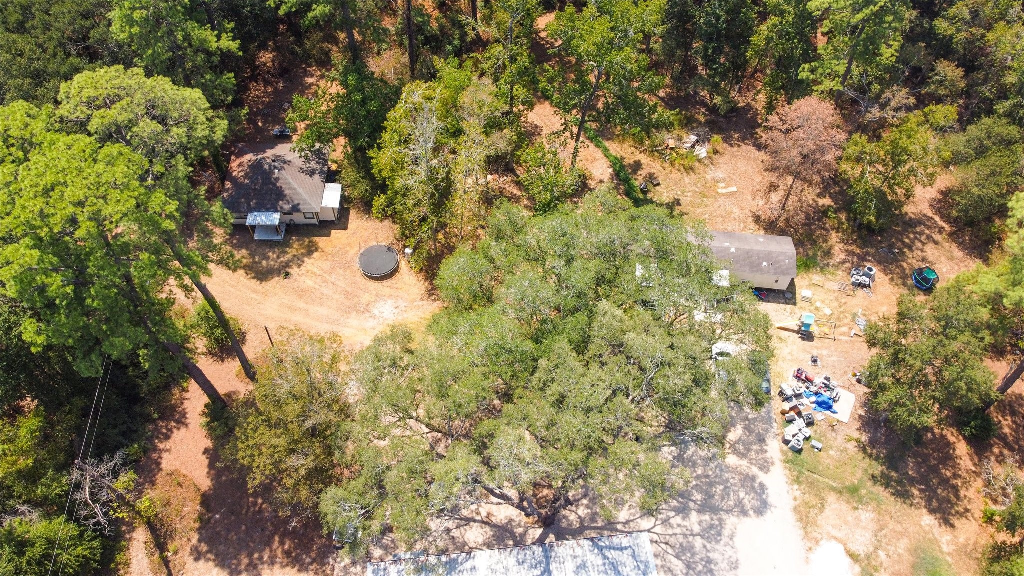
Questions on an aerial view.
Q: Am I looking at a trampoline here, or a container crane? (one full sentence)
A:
Looking from above, you can make out a trampoline.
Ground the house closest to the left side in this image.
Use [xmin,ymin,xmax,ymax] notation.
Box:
[215,143,345,247]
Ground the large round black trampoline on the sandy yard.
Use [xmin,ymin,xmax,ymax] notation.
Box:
[356,240,401,282]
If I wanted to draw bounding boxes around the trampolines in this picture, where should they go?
[910,266,943,295]
[356,240,401,282]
